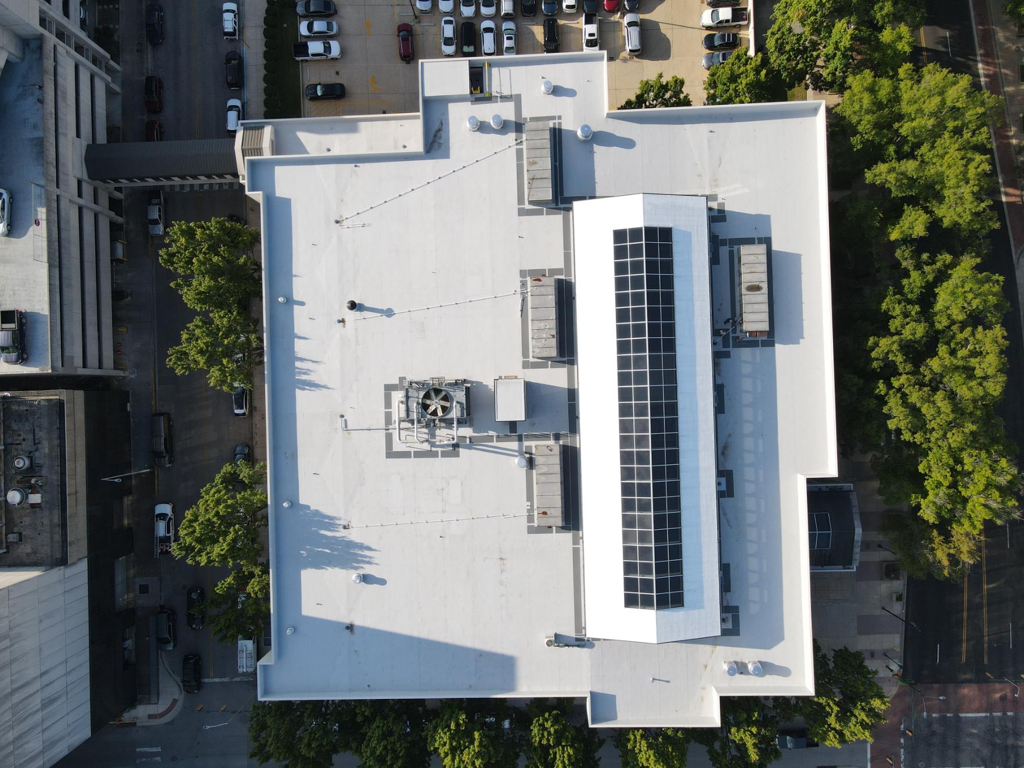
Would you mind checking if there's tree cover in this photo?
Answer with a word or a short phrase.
Yes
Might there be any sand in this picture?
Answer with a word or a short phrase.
No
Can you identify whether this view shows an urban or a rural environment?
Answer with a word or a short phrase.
urban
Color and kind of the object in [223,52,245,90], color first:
black car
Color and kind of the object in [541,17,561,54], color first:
black car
